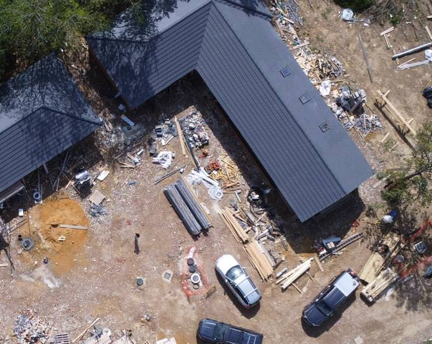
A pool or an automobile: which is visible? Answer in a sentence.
This aerial view contains an automobile.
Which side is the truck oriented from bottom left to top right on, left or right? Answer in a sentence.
You can find the truck oriented from bottom left to top right on the right side of the picture.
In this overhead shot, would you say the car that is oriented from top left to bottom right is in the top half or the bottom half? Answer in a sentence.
It is in the bottom half that the car that is oriented from top left to bottom right appears.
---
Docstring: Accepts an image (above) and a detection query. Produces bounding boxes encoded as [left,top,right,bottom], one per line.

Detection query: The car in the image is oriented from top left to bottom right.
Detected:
[214,251,263,312]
